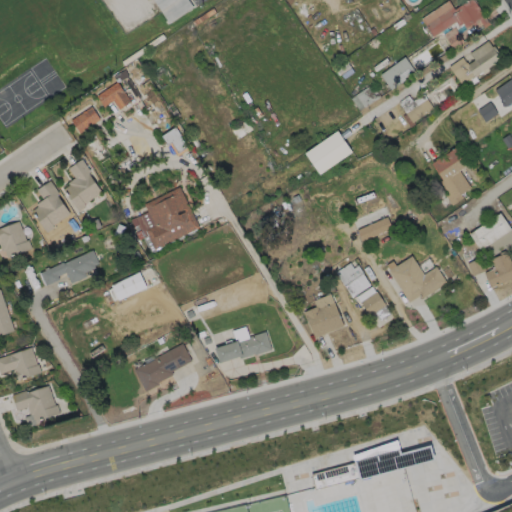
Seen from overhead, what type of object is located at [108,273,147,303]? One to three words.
building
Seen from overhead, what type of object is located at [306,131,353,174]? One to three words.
barn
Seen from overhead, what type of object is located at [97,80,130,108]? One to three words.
house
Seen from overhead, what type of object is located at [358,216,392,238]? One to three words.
shed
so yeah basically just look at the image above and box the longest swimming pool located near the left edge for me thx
[1,206,18,223]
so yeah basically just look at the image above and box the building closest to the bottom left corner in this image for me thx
[12,384,60,426]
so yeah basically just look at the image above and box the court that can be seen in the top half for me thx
[0,58,66,126]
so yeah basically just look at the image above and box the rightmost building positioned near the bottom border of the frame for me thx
[314,464,358,490]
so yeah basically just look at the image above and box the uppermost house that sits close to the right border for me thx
[422,0,489,36]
